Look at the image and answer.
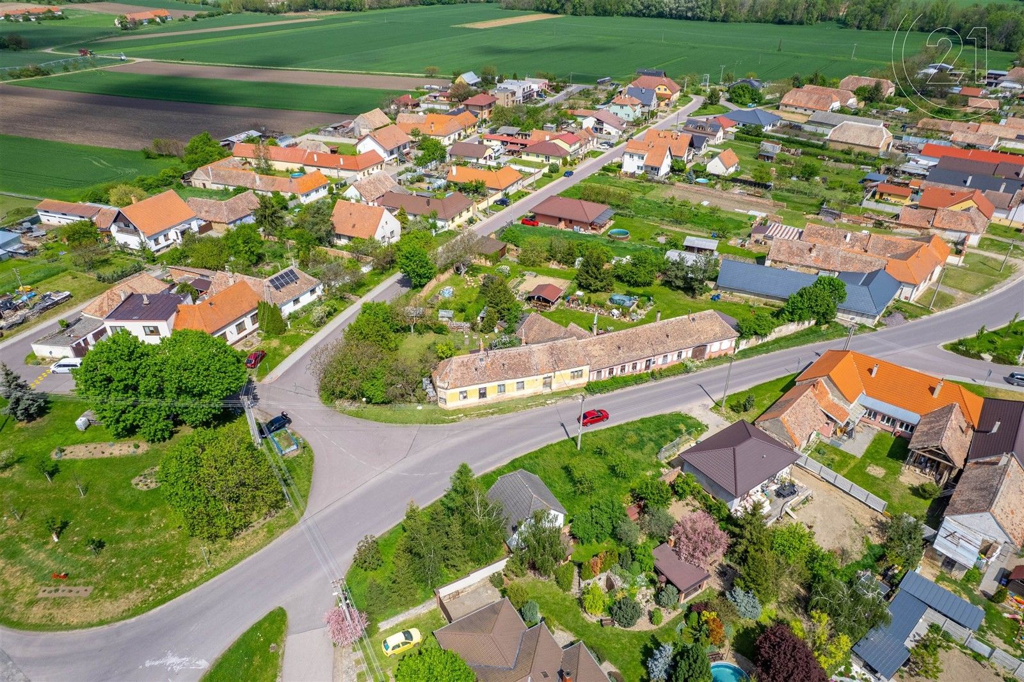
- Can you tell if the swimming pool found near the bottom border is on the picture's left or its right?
right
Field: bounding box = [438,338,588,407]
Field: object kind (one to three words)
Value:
house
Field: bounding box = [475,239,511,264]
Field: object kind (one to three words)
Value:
shed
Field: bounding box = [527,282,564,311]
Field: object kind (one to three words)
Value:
building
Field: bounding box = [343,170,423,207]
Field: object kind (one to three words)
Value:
house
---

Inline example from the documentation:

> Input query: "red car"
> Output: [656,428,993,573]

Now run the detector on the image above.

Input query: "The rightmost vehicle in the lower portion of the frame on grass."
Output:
[382,630,421,657]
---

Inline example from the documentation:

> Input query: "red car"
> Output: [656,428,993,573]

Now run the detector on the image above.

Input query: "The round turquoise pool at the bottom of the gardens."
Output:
[706,655,750,682]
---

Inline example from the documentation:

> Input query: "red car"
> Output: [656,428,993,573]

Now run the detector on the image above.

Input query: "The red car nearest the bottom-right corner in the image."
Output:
[578,410,609,425]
